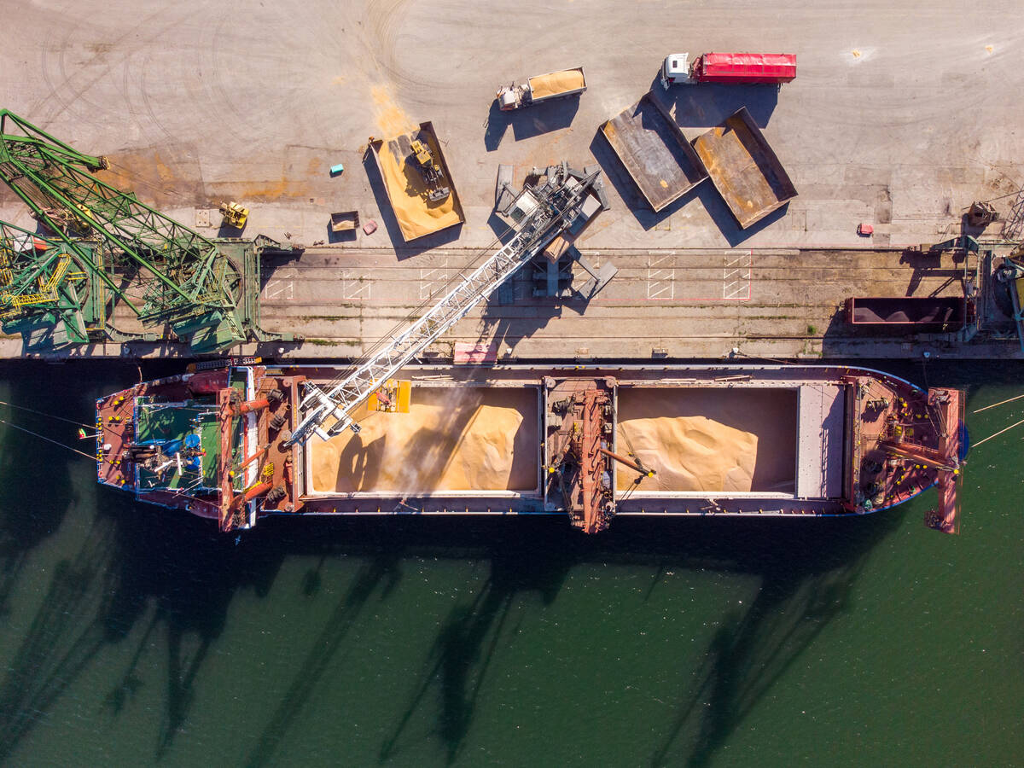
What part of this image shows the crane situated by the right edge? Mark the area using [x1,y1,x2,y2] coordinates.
[897,197,1024,355]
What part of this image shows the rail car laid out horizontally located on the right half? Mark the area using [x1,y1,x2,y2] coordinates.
[837,297,969,326]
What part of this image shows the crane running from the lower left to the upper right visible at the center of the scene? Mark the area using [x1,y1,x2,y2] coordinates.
[282,158,620,448]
